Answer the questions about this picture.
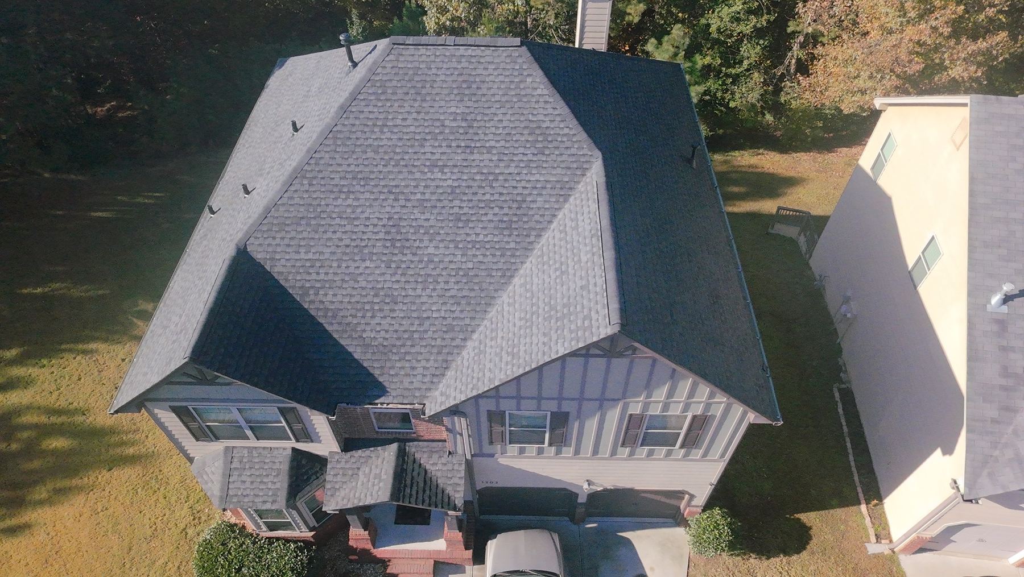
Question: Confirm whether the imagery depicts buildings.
Yes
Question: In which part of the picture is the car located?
bottom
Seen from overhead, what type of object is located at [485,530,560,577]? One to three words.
car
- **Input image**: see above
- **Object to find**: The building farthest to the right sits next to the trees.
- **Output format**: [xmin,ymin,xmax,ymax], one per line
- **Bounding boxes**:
[811,100,1024,577]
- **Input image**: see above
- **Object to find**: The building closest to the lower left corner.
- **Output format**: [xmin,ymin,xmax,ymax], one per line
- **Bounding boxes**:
[107,0,785,577]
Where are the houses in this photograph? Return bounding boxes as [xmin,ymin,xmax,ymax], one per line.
[811,100,1024,577]
[107,0,785,577]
